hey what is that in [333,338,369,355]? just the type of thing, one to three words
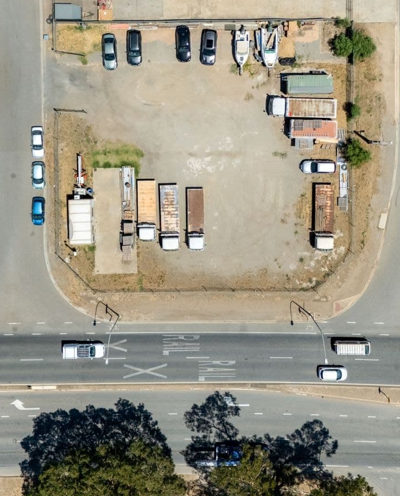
vehicle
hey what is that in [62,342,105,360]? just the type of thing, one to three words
vehicle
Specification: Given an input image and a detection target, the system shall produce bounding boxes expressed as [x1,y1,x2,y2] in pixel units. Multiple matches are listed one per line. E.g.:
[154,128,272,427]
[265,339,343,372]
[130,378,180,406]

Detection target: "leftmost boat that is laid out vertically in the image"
[233,22,250,72]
